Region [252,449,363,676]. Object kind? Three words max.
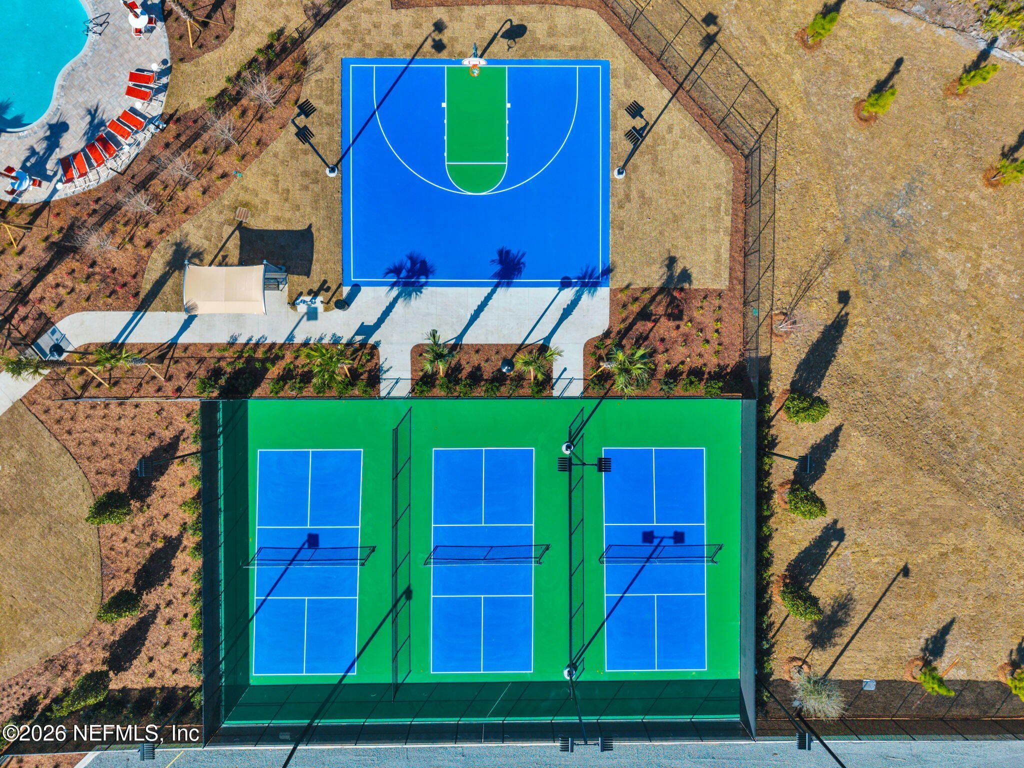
sports court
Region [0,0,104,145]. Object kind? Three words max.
swimming pool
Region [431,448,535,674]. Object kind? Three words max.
sports court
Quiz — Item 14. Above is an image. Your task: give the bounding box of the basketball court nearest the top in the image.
[342,57,610,287]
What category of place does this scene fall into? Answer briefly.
sports ground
